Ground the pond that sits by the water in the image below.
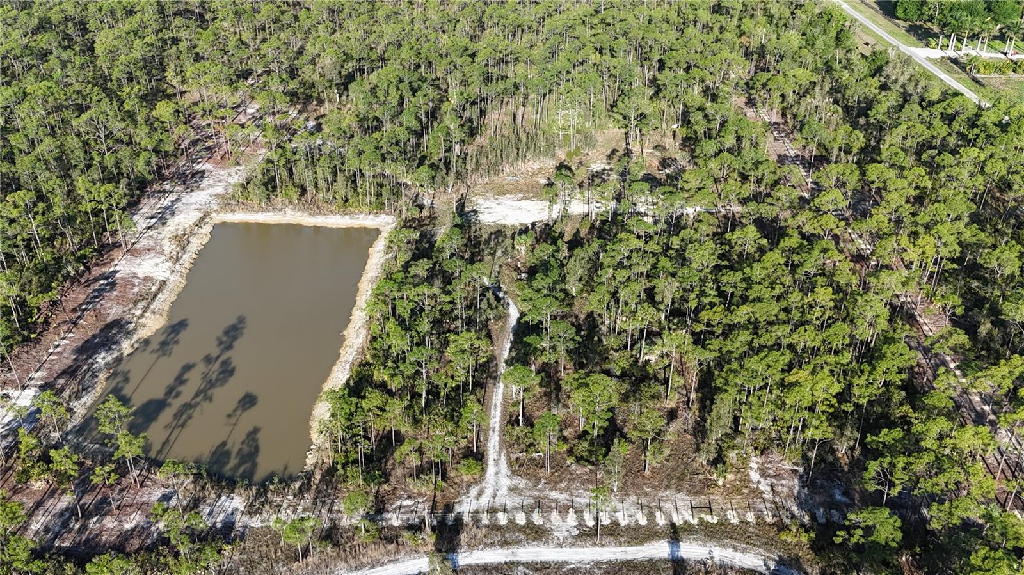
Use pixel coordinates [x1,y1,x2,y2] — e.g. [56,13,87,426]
[70,222,381,477]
